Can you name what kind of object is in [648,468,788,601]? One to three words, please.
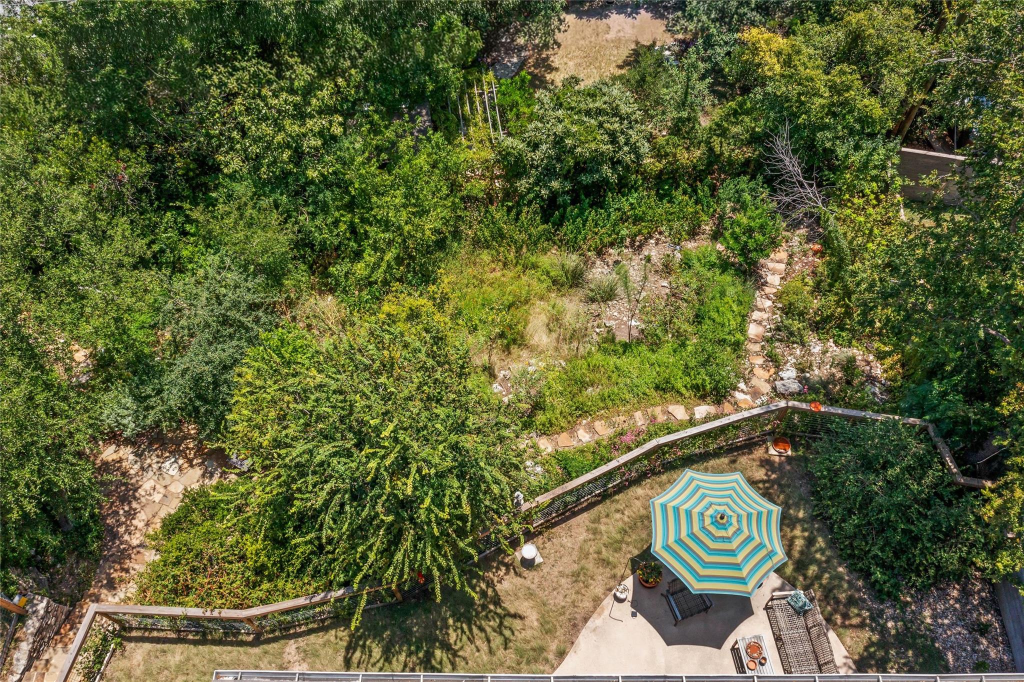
umbrella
